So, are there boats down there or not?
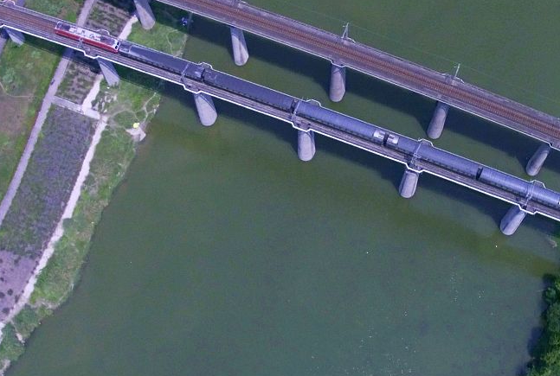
No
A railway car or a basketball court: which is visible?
railway car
